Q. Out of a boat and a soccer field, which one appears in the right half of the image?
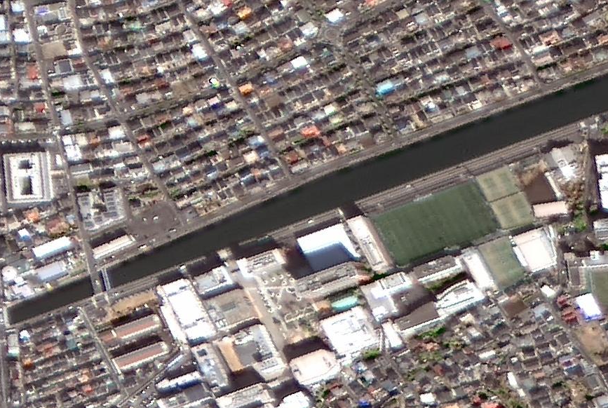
soccer field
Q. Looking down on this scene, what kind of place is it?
residential area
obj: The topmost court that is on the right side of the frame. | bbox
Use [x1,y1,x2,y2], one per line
[478,166,523,203]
